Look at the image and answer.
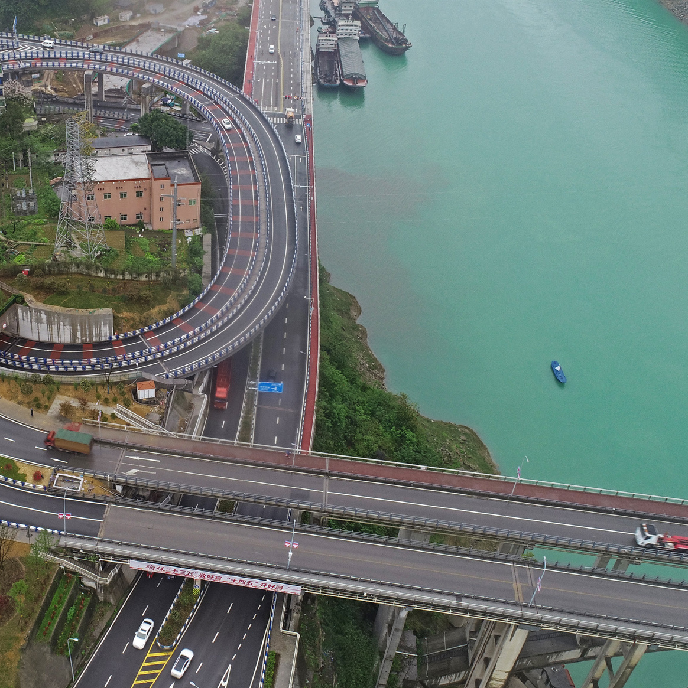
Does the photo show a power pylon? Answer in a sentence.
Yes, a power pylon is visible in the scene.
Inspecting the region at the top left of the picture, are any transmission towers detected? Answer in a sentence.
Yes, a transmission tower shows up at the top left of the picture.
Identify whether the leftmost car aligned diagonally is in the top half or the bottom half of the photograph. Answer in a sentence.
The bottom half of the photo is where the leftmost car aligned diagonally is.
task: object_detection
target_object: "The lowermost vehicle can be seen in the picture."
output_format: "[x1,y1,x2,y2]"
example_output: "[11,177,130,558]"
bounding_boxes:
[167,646,199,679]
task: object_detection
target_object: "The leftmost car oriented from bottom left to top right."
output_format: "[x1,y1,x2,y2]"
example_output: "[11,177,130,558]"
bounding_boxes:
[130,614,157,648]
